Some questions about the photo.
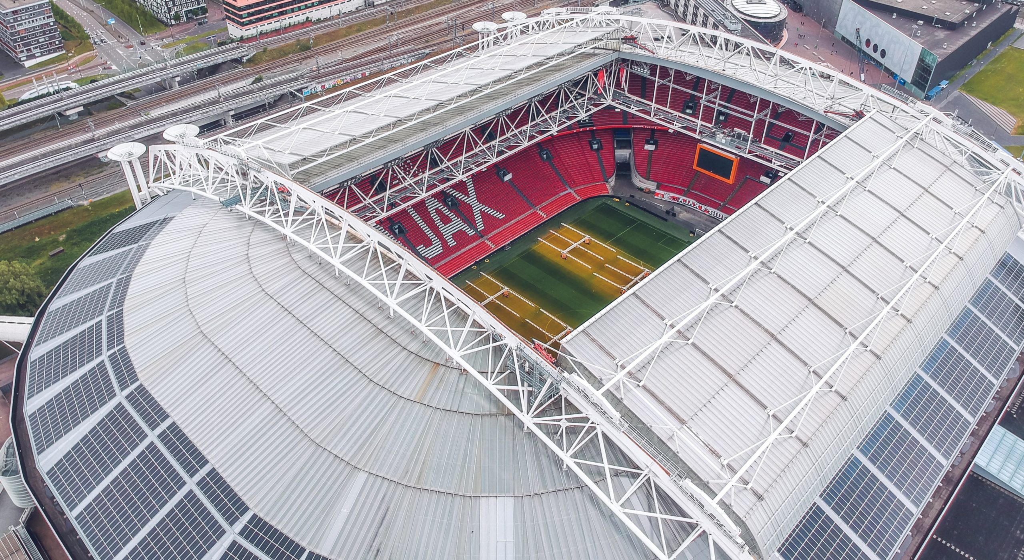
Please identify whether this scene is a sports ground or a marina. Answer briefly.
sports ground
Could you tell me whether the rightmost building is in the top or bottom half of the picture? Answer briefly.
top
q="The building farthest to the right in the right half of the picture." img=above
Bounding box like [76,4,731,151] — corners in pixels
[833,0,1024,98]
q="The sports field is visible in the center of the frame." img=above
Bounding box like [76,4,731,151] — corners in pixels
[466,204,688,354]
